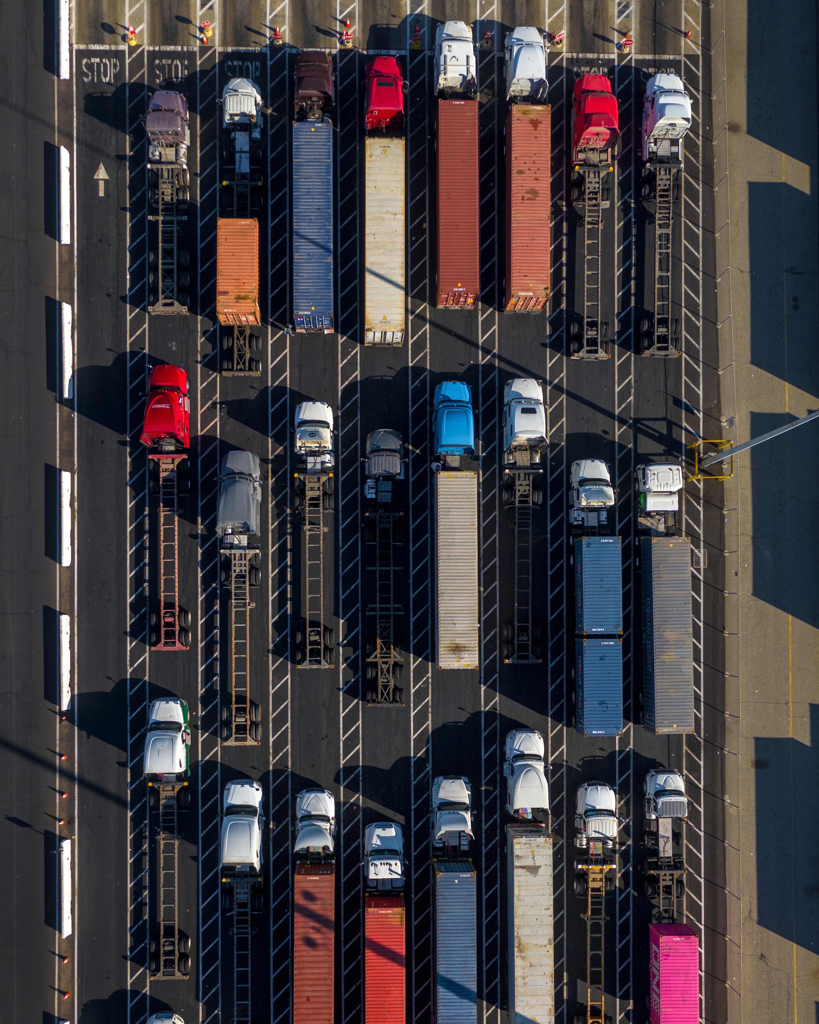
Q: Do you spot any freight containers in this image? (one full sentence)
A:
Yes, there's a freight container down there.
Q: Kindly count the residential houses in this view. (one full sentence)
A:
I count no residential houses.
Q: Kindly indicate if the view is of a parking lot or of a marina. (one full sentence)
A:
It's a parking lot.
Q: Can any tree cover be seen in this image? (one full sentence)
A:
No, there is no tree cover in the image.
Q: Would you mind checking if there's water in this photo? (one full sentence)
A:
No, there's no water in this view.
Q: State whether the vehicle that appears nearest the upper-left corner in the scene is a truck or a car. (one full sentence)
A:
It looks like the vehicle that appears nearest the upper-left corner is a truck.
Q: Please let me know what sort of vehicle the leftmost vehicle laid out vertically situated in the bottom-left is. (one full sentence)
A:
In the photo, the leftmost vehicle laid out vertically situated in the bottom-left shows up as a truck.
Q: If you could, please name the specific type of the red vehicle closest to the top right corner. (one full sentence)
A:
From above, the red vehicle closest to the top right corner can be identified as a truck.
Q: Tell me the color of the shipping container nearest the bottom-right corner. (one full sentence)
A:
The color of the shipping container nearest the bottom-right corner is pink.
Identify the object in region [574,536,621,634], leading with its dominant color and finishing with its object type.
blue shipping container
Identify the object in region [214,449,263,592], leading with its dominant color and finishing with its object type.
gray truck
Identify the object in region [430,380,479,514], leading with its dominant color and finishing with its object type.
blue truck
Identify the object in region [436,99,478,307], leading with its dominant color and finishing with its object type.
red shipping container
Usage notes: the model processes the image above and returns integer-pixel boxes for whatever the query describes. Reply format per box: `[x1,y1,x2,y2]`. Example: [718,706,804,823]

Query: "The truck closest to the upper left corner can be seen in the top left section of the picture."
[141,91,190,213]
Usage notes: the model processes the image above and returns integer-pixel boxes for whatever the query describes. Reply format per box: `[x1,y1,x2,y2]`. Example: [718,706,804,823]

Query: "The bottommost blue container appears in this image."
[434,862,476,1024]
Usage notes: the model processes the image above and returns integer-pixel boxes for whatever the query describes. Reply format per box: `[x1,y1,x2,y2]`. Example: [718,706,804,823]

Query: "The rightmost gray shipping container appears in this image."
[641,537,696,735]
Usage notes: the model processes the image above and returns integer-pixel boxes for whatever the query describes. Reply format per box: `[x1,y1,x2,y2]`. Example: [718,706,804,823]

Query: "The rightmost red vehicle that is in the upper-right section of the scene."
[572,74,622,212]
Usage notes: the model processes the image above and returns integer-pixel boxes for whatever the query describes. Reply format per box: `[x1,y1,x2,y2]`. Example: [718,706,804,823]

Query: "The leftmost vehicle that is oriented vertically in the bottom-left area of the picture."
[141,695,190,821]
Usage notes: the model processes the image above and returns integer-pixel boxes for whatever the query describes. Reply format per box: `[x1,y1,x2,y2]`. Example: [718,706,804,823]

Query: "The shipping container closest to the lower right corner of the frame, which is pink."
[648,923,698,1024]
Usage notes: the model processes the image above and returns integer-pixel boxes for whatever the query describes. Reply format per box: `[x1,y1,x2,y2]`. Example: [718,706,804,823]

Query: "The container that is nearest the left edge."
[218,218,262,326]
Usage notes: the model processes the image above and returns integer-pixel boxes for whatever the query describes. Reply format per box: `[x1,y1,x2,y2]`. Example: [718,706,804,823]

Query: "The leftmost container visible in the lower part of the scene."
[295,864,335,1024]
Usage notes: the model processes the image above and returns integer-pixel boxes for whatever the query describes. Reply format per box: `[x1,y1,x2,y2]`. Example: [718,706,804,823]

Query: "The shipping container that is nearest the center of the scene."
[435,471,477,669]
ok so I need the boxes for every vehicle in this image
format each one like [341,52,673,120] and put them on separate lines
[430,380,479,514]
[291,786,339,862]
[634,459,686,566]
[569,457,619,574]
[361,428,409,557]
[432,19,480,144]
[361,55,409,137]
[217,777,265,918]
[214,449,263,592]
[503,727,552,861]
[503,25,551,147]
[642,74,695,210]
[574,779,624,907]
[145,1007,187,1024]
[572,74,622,212]
[502,377,550,513]
[217,79,265,229]
[141,364,190,500]
[141,91,190,213]
[290,51,338,133]
[361,820,409,897]
[141,695,190,821]
[289,400,338,516]
[430,772,478,893]
[643,768,696,901]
